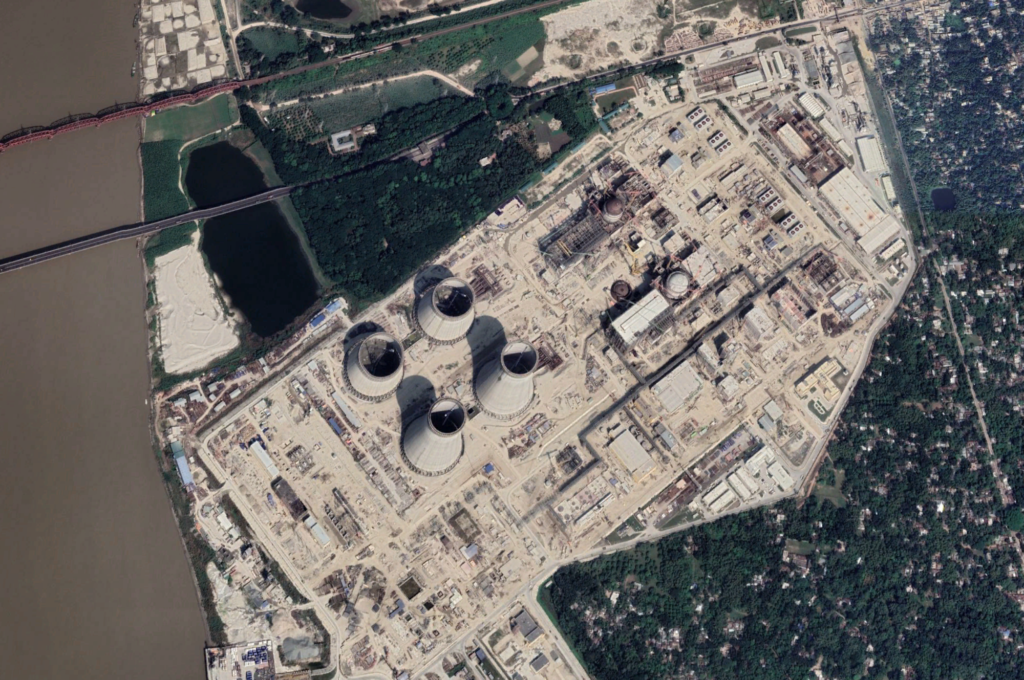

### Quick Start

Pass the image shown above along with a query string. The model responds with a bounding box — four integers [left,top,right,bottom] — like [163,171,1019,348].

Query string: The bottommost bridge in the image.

[0,184,292,272]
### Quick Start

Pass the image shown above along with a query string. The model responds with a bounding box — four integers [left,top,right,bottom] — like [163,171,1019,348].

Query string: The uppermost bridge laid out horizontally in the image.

[0,81,242,151]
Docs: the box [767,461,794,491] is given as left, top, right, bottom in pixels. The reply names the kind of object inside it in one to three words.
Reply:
building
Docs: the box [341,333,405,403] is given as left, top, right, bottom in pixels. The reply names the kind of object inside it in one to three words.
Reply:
cooling tower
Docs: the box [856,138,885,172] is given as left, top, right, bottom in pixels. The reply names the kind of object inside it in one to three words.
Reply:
building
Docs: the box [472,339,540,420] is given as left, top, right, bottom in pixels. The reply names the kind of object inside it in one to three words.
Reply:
cooling tower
